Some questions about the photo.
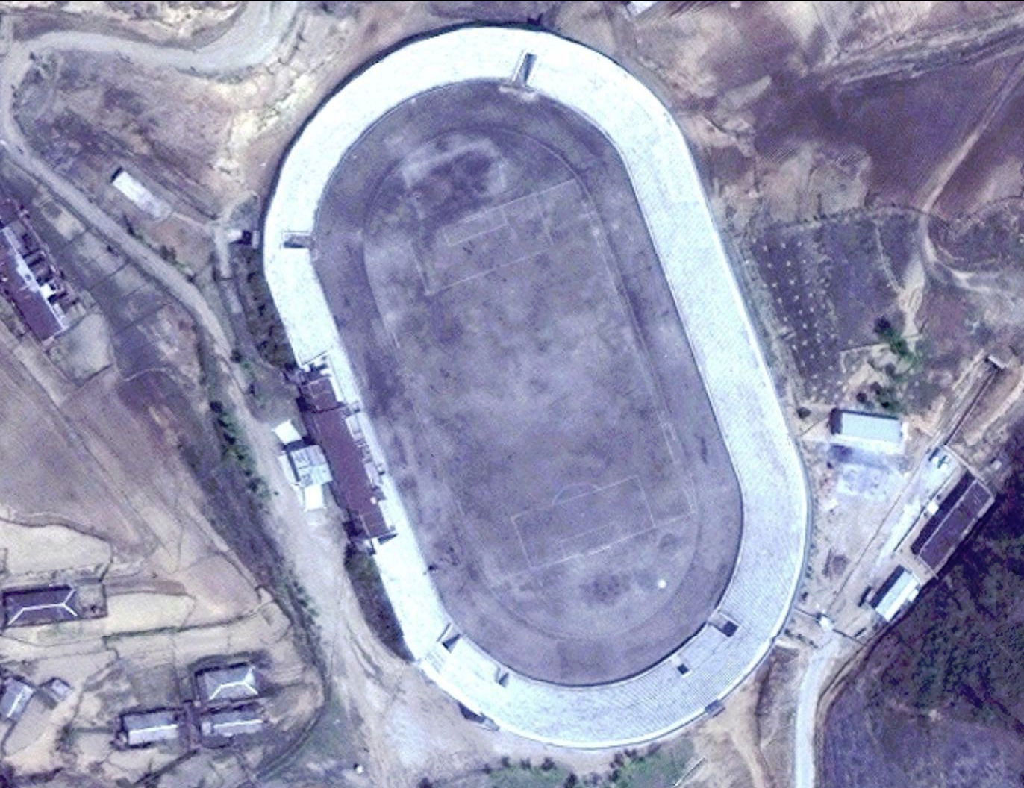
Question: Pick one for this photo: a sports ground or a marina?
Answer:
sports ground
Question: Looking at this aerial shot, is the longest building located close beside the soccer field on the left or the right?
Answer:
left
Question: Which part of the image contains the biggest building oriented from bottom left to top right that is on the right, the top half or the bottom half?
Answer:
bottom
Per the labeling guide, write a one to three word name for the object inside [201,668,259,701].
house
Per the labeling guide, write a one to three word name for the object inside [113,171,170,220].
shed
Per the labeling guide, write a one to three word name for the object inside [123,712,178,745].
house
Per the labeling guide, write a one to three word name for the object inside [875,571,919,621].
building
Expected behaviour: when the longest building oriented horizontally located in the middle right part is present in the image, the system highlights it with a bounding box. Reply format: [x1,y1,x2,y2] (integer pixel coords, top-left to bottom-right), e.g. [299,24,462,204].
[831,410,907,455]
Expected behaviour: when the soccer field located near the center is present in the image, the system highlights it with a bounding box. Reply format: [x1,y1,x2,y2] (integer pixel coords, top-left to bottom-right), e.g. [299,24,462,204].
[363,128,699,638]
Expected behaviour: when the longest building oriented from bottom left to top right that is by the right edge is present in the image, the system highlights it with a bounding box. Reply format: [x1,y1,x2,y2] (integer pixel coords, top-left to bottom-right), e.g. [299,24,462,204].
[919,480,995,572]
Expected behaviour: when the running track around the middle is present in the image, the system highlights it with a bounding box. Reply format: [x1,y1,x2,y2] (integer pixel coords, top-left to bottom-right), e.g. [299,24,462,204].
[310,79,743,687]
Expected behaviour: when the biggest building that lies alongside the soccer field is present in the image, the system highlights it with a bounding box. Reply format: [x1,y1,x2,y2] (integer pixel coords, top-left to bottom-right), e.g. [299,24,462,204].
[302,363,397,551]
